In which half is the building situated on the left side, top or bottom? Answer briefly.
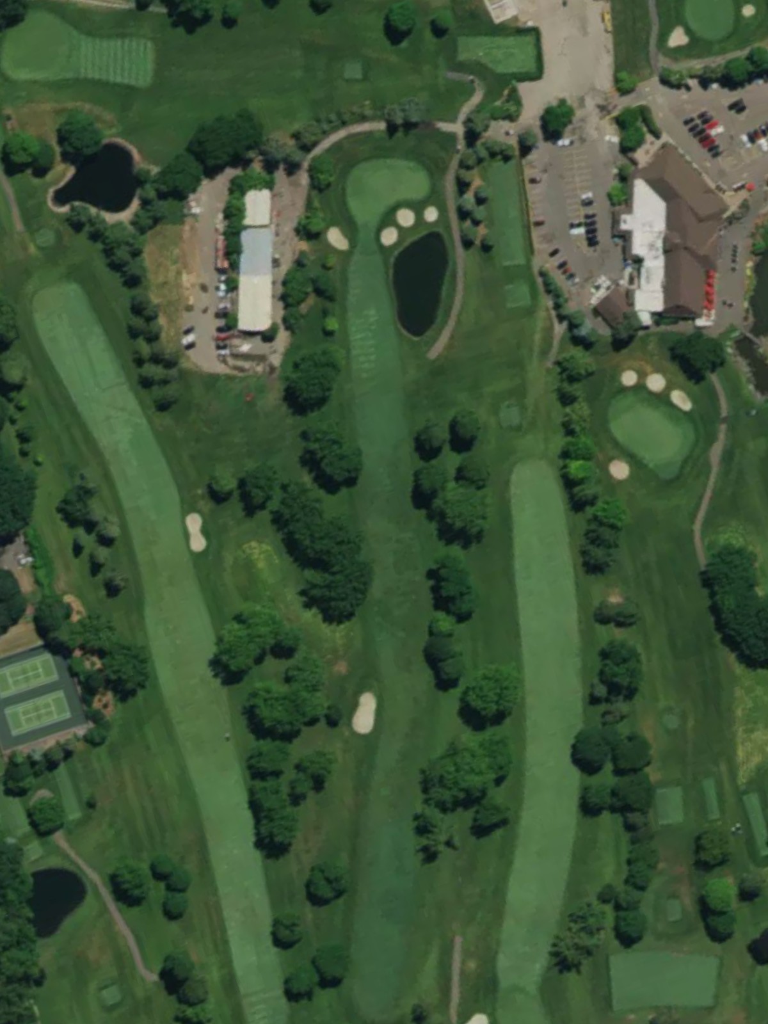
top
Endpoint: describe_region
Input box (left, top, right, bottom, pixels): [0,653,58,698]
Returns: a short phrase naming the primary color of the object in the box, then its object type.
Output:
green tennis court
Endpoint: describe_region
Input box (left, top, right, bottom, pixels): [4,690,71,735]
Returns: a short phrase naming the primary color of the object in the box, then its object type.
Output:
green tennis court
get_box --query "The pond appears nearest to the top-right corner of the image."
[734,251,768,395]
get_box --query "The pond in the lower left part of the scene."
[22,868,86,938]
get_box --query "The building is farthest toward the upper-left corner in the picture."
[238,189,272,330]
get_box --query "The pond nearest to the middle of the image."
[392,232,448,337]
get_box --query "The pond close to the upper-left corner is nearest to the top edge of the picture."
[53,141,137,212]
